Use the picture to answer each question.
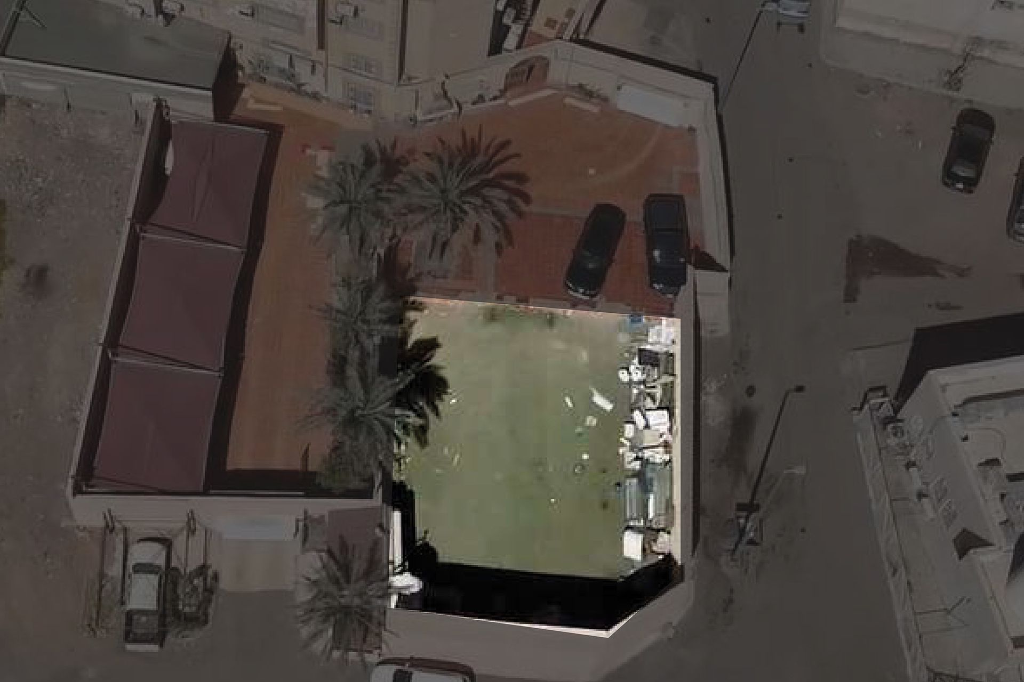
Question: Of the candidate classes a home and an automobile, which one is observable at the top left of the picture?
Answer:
home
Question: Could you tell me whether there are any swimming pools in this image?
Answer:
No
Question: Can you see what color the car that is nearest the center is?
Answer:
black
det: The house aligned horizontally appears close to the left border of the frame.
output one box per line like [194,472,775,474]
[0,0,232,124]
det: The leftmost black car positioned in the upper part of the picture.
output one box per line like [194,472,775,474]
[567,205,627,298]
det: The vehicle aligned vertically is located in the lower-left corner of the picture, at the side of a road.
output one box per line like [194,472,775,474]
[123,539,168,656]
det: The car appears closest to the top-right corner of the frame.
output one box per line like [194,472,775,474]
[942,108,992,190]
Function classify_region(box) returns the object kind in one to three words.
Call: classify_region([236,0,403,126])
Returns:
house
